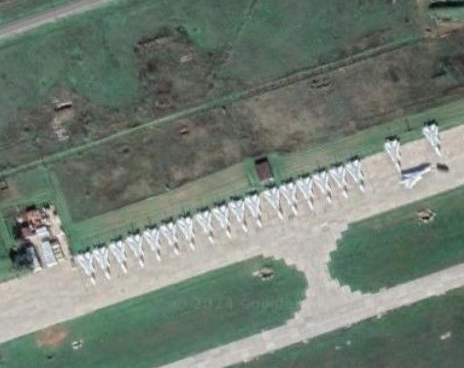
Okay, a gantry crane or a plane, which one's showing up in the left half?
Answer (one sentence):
There is a plane in the left half.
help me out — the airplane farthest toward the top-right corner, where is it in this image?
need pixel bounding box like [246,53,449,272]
[423,124,442,158]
